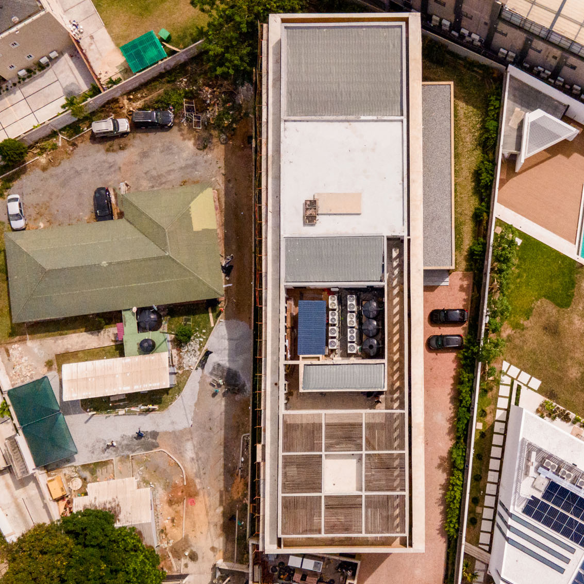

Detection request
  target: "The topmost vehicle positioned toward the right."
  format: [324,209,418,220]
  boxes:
[429,306,468,325]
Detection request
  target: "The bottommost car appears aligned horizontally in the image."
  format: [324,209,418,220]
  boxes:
[426,332,465,351]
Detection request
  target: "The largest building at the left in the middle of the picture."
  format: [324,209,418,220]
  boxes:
[4,178,225,323]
